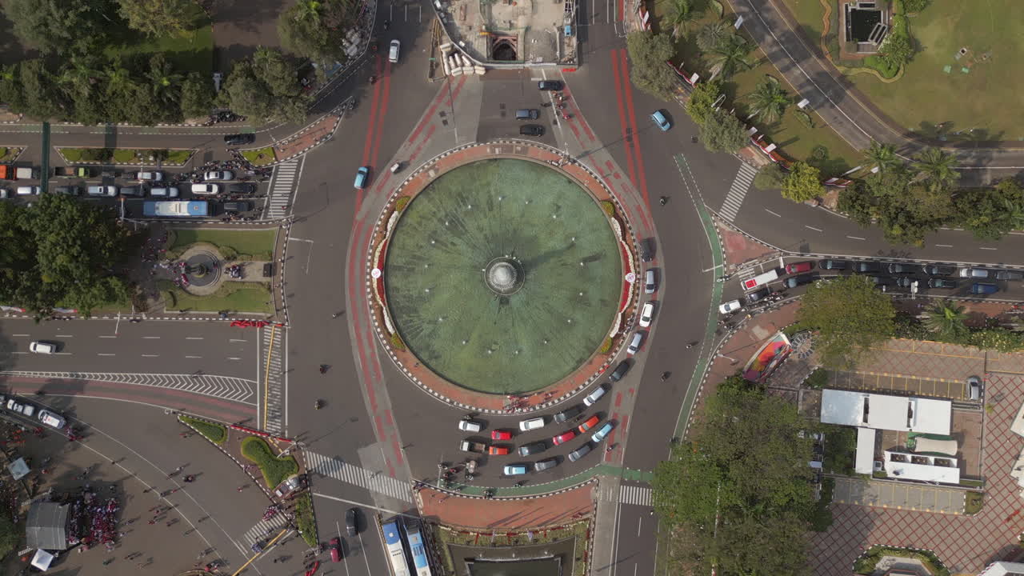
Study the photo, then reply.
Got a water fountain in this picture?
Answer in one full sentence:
Yes, there is a water fountain in the image.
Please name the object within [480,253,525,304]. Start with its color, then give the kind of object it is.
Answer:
gray fountain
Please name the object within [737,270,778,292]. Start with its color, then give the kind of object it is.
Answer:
white vehicle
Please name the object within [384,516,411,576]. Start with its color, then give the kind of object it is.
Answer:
white bus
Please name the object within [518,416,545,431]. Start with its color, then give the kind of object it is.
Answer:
white car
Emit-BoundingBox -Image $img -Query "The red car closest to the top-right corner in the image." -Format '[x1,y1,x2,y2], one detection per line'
[785,262,811,274]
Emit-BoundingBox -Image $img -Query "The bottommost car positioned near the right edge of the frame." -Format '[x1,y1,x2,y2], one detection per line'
[966,376,980,400]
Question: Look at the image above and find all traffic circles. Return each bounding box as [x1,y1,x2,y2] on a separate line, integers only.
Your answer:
[367,139,641,413]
